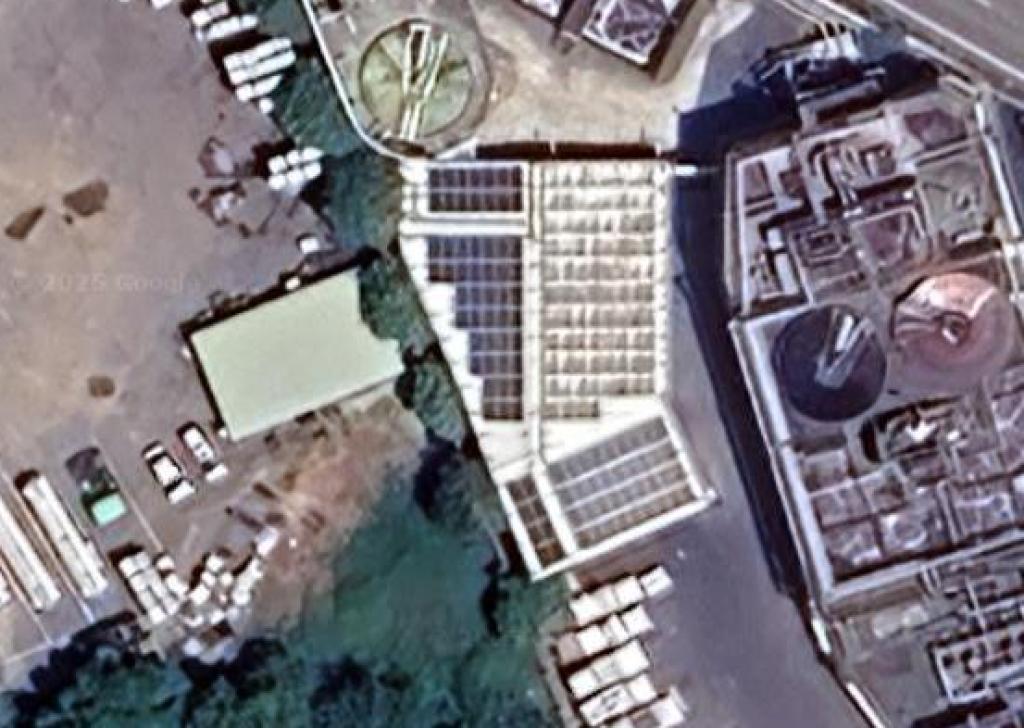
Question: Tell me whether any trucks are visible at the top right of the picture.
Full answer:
No, no truck appears at the top right of the picture.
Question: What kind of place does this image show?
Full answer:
This looks like an industrial area.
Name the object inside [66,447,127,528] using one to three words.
truck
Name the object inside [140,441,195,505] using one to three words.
car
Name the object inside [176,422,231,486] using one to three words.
car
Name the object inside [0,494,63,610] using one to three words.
trailer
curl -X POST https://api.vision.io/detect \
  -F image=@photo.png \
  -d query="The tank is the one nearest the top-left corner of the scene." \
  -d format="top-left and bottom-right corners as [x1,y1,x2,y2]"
[356,18,490,150]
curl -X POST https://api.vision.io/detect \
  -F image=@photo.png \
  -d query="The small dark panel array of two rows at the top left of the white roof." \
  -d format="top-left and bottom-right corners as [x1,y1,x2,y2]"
[429,166,524,212]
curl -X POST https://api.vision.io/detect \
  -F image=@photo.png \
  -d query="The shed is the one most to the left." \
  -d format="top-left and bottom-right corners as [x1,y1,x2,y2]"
[191,269,404,440]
